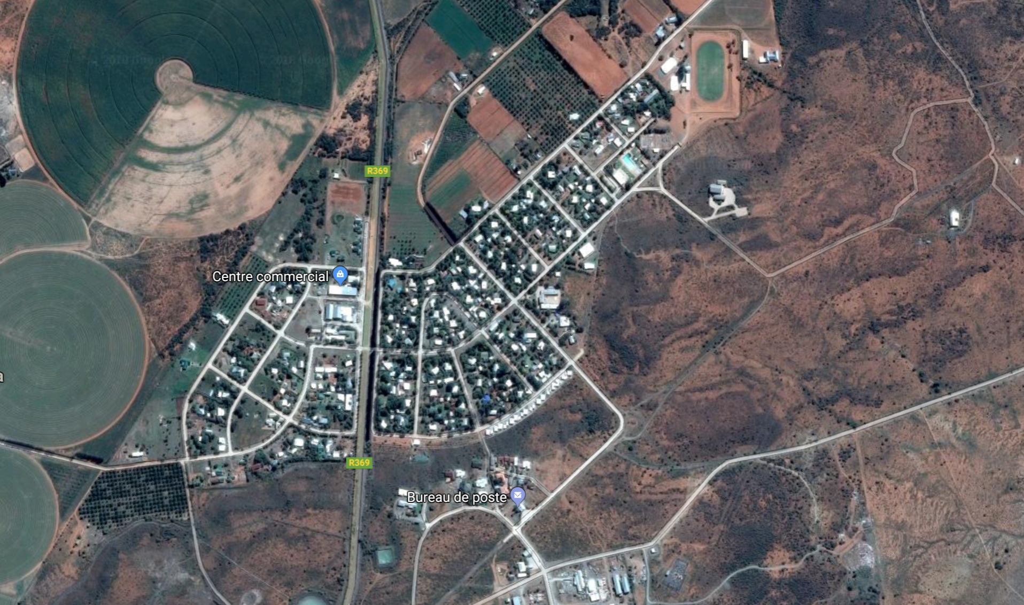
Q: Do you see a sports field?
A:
Yes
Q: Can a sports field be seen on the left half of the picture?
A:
No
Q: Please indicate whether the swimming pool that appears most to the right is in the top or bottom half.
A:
top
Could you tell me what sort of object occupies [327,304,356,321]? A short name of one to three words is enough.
building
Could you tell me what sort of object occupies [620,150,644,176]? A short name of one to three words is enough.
swimming pool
